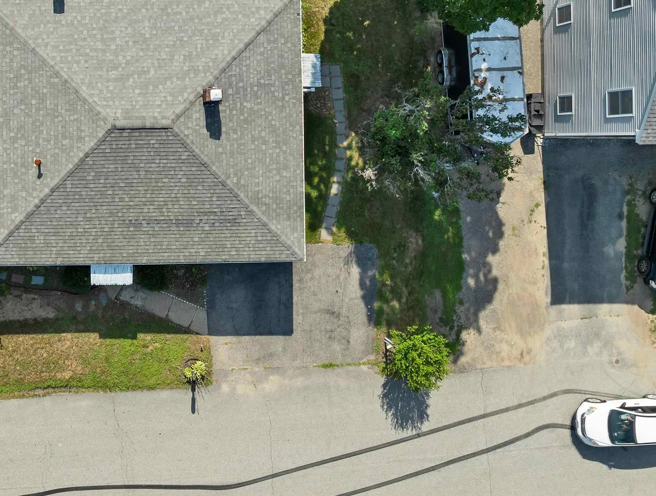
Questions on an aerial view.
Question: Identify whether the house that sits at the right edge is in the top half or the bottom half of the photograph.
top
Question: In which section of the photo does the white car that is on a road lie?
bottom right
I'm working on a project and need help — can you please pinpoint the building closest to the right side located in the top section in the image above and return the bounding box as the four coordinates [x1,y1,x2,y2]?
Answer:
[542,0,656,148]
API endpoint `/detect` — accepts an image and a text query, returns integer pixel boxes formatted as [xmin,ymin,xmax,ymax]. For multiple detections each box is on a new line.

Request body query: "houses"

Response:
[542,0,656,148]
[0,0,323,286]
